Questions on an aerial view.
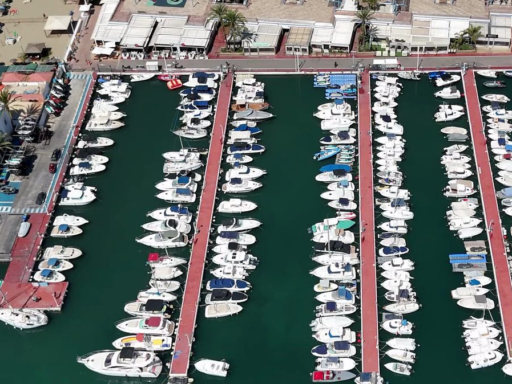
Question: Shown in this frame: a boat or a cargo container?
boat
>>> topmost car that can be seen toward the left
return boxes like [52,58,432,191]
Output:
[50,145,63,162]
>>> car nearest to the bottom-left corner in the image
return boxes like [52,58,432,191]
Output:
[33,189,49,208]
